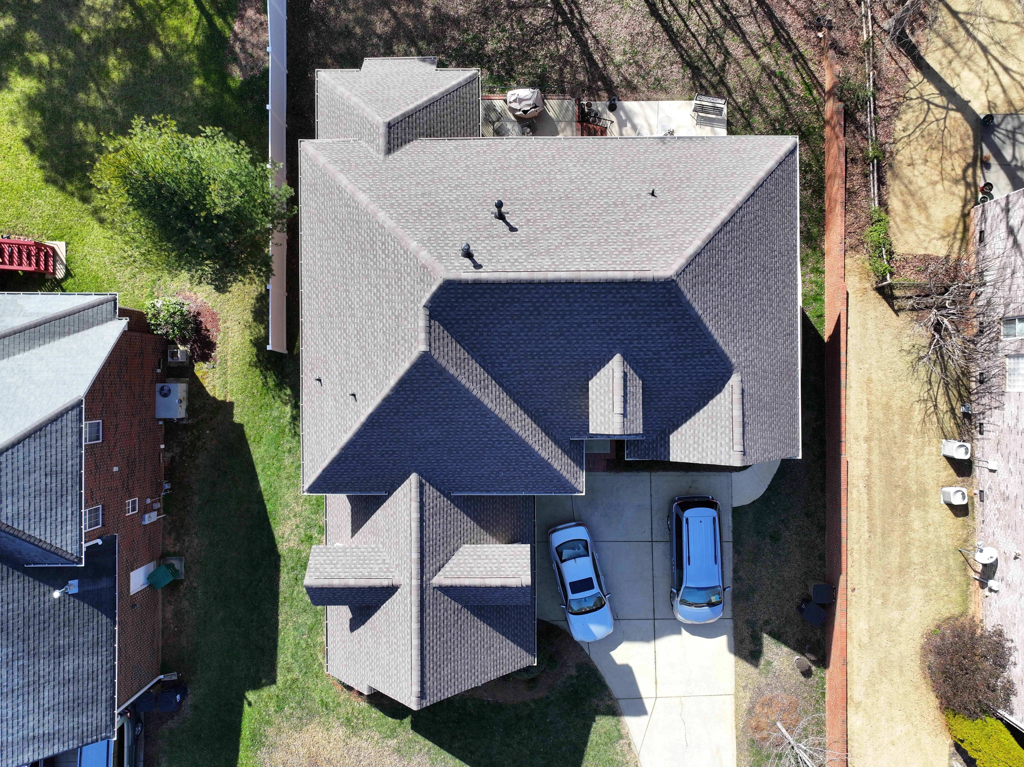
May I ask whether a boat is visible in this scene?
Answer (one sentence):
No, there isn't any boat down there.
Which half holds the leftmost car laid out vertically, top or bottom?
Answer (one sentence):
It is in the bottom half that the leftmost car laid out vertically appears.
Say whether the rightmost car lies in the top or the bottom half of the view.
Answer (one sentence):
You can find the rightmost car in the bottom half.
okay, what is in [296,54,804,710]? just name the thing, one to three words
house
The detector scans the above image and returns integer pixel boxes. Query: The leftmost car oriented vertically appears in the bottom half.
[549,520,615,643]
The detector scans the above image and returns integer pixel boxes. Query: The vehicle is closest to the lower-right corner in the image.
[667,496,734,624]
